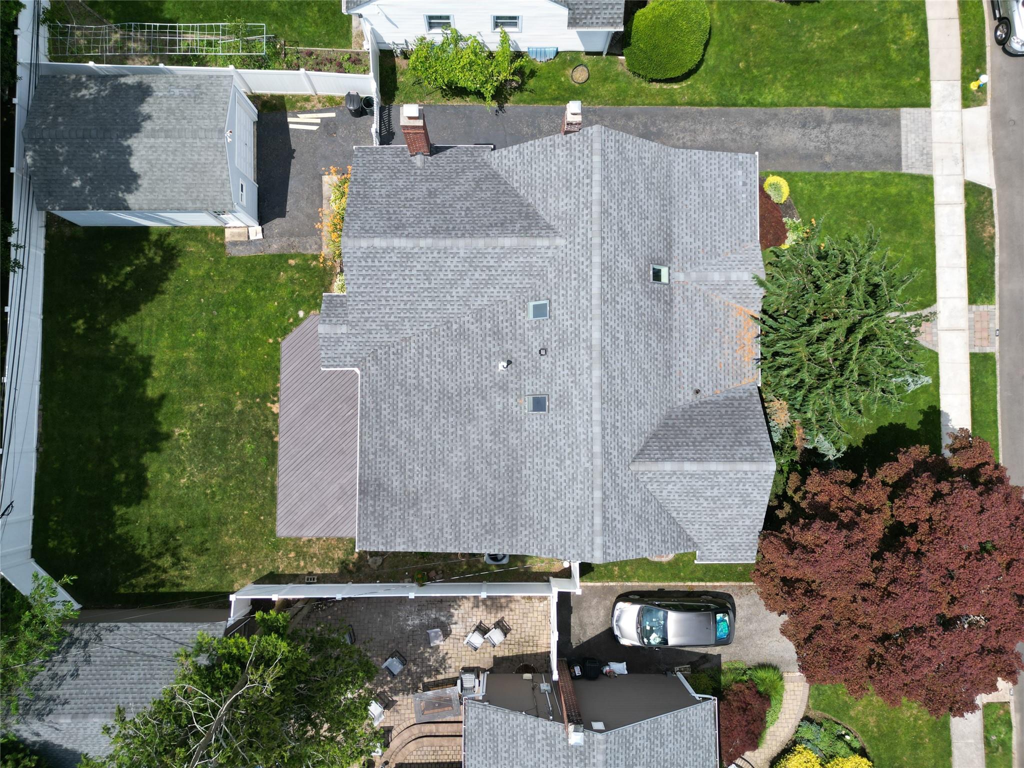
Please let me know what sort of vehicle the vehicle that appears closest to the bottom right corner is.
automobile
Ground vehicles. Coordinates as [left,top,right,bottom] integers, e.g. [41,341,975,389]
[610,594,738,654]
[990,0,1024,62]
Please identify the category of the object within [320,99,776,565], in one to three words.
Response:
house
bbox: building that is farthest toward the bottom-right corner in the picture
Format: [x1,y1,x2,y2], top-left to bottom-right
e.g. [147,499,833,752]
[461,659,724,768]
